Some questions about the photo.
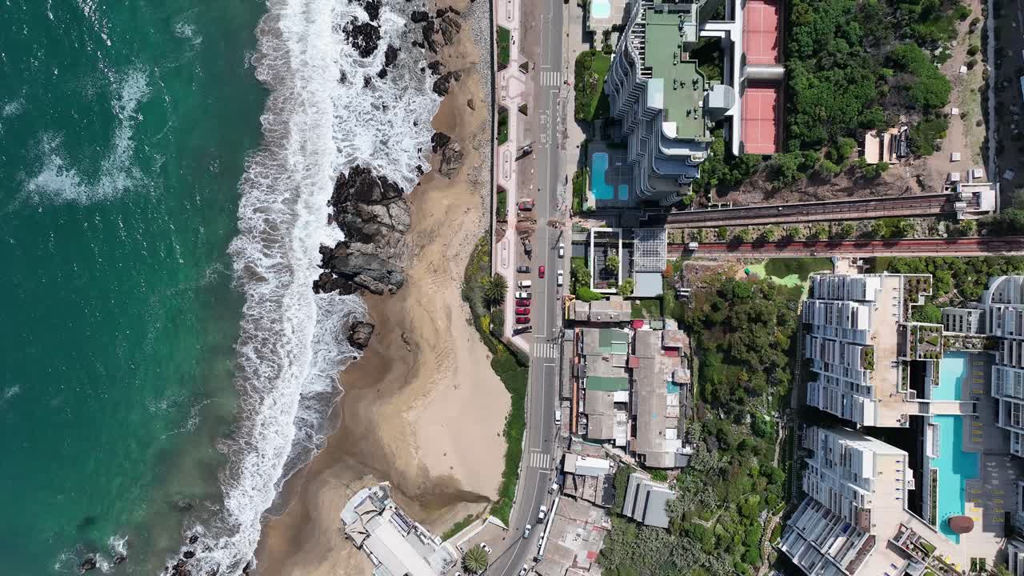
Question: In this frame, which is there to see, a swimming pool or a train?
swimming pool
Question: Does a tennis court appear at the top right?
Yes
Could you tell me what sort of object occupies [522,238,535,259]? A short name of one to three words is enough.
vehicle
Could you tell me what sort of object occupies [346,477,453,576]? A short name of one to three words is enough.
building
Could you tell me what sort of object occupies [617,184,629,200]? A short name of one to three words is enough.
swimming pool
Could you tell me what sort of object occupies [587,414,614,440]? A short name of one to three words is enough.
house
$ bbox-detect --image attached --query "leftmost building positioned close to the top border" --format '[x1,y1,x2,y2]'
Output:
[601,0,713,207]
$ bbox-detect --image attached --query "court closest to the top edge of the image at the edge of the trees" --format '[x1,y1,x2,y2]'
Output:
[740,0,774,81]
